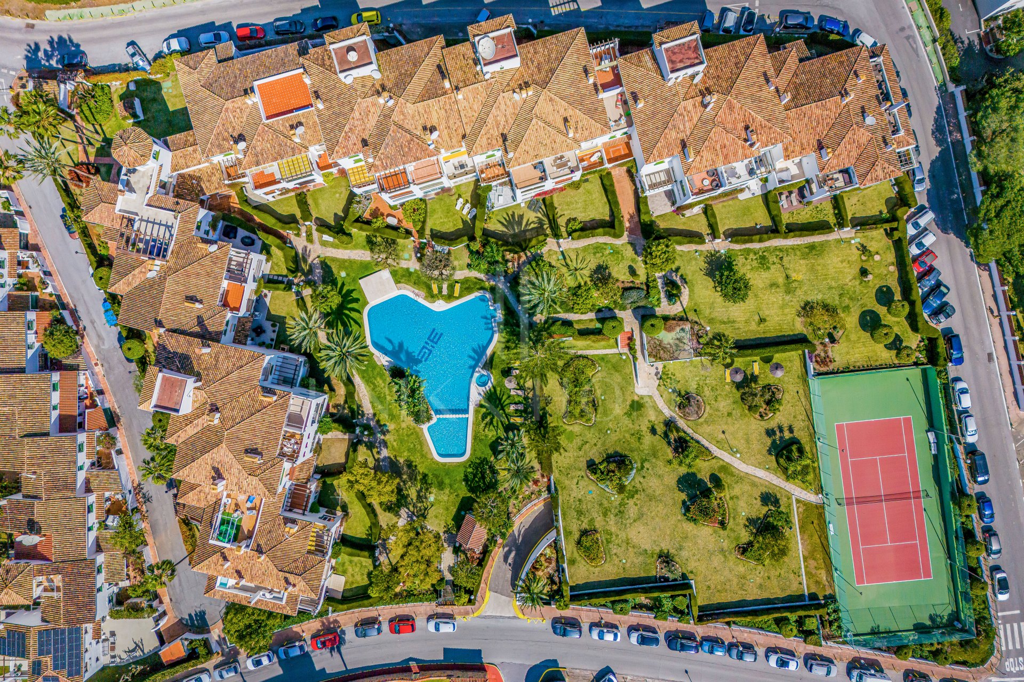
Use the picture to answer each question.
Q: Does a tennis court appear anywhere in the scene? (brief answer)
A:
Yes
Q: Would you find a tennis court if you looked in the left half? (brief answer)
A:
No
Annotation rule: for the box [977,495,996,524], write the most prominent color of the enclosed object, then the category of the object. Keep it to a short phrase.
blue car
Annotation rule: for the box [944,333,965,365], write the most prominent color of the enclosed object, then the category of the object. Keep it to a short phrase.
blue car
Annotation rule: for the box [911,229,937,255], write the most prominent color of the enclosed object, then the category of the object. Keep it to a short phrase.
white car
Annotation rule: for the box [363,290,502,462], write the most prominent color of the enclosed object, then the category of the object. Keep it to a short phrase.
blue swimming pool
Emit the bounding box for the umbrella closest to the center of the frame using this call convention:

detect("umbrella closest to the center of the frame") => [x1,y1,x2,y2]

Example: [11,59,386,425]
[504,376,517,389]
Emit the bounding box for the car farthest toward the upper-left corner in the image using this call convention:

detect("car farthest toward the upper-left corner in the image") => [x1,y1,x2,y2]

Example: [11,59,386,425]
[58,50,92,67]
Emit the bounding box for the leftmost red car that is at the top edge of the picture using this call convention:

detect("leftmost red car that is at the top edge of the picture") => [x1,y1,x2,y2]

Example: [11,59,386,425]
[236,24,265,41]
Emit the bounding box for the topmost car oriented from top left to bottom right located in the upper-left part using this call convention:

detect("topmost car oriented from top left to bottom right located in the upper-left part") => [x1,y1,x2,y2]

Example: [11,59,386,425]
[125,41,152,72]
